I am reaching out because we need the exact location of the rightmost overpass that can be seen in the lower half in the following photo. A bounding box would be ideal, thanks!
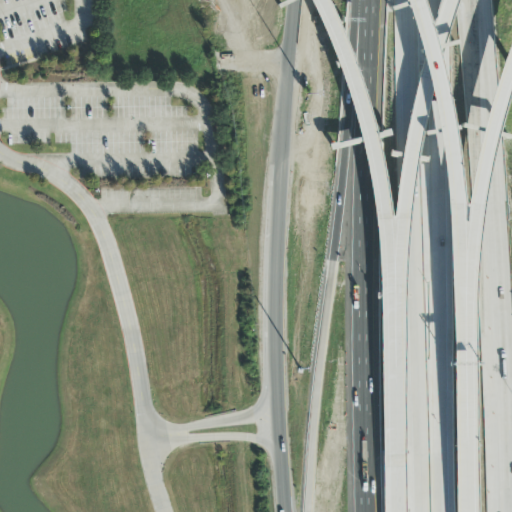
[450,212,488,512]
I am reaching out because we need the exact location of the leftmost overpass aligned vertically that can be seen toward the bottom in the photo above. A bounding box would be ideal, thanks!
[376,214,413,512]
